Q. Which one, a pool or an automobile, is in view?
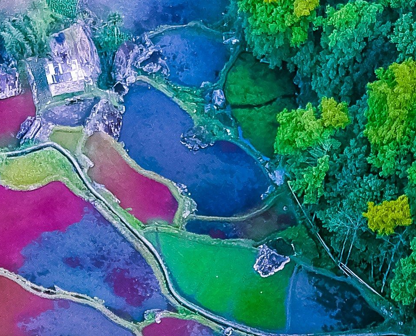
pool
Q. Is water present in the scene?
Yes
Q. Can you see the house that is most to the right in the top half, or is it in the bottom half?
top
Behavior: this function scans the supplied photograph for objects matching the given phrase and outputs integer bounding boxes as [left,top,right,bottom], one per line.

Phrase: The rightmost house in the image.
[48,27,104,104]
